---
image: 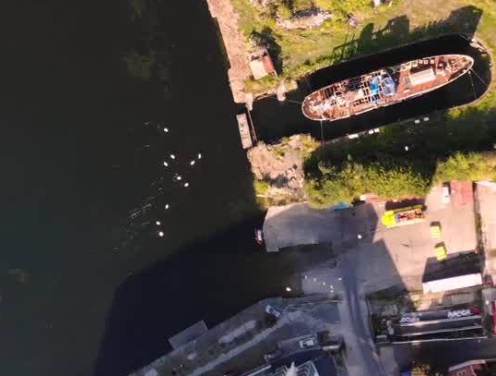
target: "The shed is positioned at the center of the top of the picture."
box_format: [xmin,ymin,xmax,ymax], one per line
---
[251,54,275,76]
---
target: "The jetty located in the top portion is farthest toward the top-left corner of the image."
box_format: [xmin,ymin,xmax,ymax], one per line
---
[237,113,255,148]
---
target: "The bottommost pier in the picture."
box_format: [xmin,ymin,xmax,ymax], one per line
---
[168,319,207,347]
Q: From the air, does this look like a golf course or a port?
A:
port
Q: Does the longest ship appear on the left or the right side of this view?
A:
right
